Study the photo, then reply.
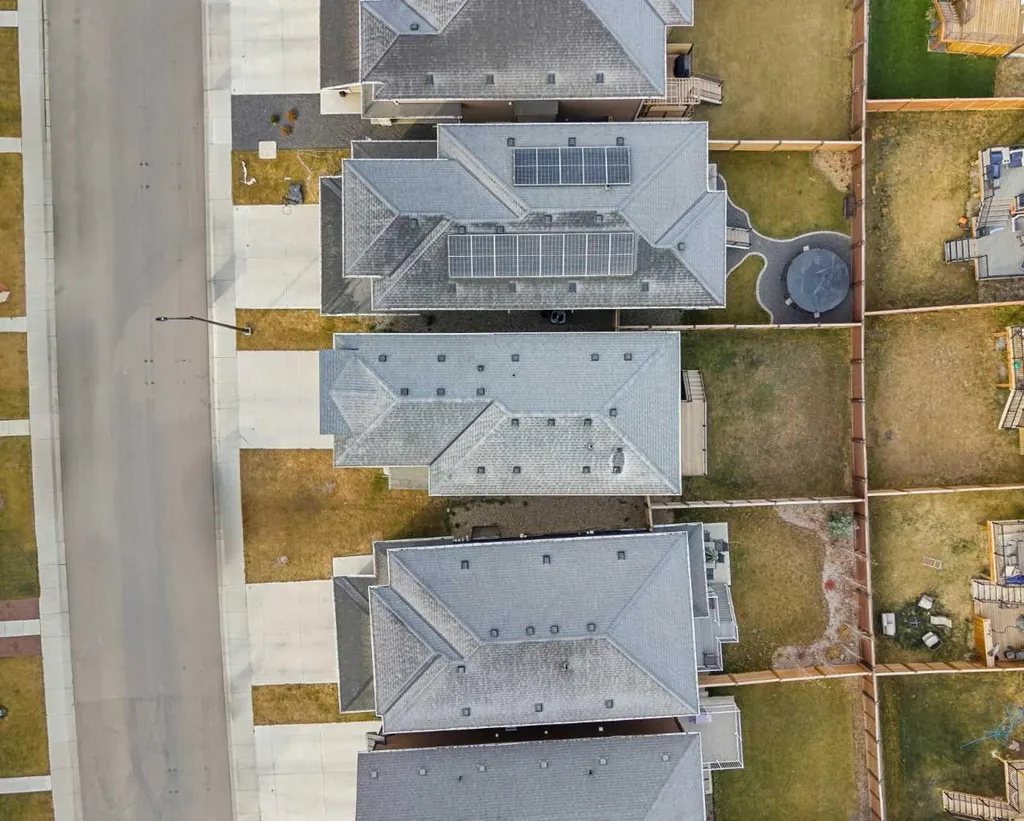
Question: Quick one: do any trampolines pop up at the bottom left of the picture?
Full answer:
No, the scene shows no trampoline at the bottom left of the picture.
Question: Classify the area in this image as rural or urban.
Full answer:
The land in this view is best described as urban.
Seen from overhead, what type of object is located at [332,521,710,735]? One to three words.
house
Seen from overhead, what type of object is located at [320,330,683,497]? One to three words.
house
